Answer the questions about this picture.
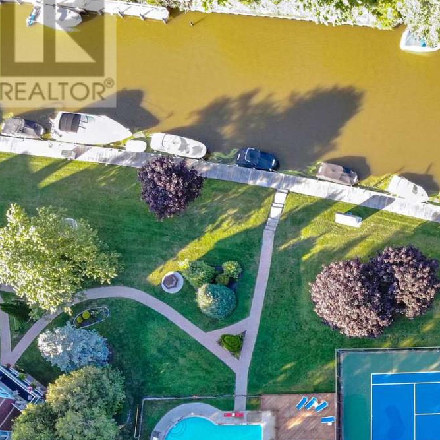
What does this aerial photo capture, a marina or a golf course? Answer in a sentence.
The area seen from above is a marina.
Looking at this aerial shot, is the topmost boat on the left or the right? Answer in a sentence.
It is on the left.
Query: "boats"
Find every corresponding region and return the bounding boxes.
[235,148,279,171]
[34,7,83,30]
[315,160,358,183]
[125,139,148,150]
[400,40,440,58]
[0,117,46,138]
[390,175,430,203]
[148,130,207,161]
[49,109,134,155]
